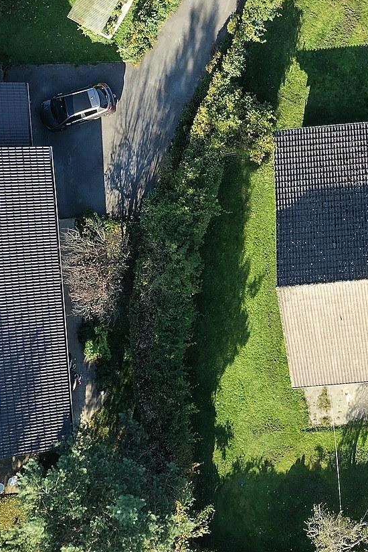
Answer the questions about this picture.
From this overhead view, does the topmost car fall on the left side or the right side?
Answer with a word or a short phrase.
left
